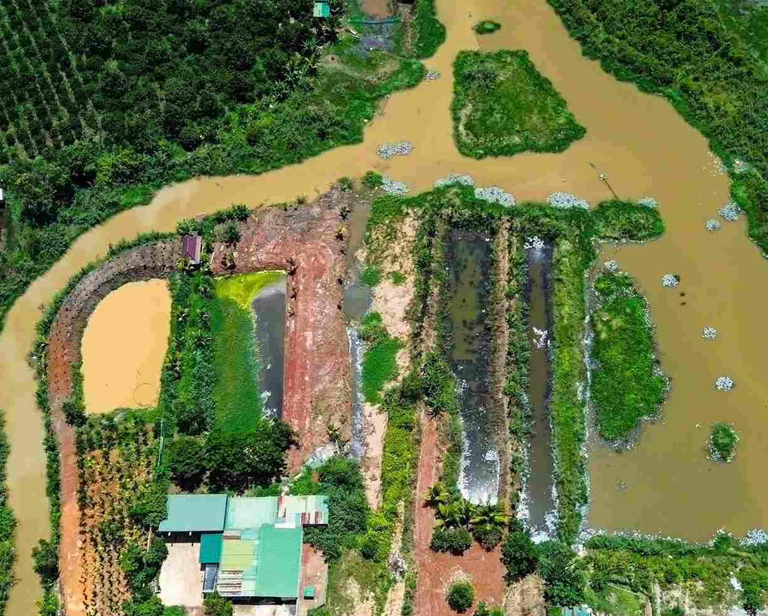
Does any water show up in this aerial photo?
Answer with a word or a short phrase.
Yes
